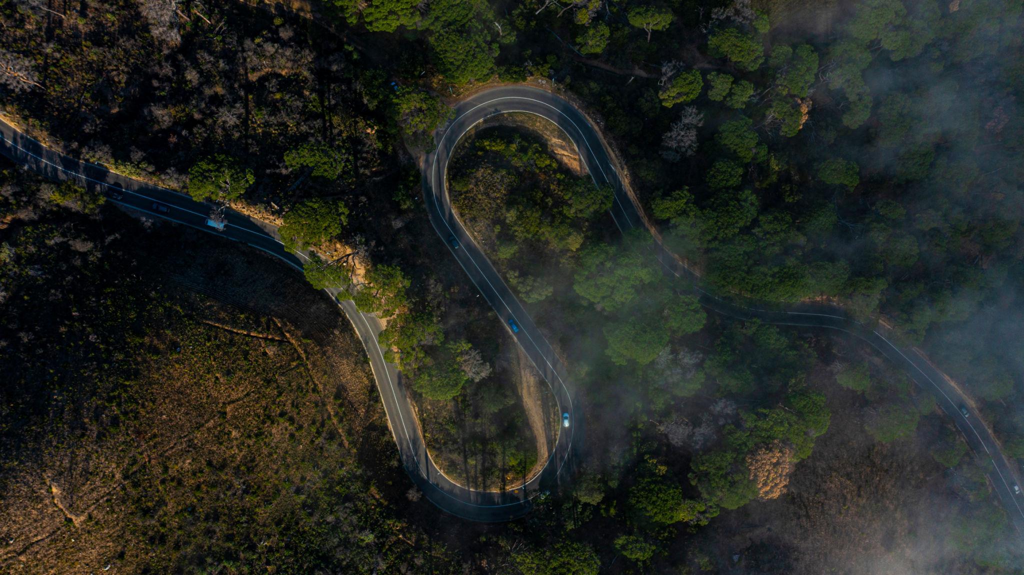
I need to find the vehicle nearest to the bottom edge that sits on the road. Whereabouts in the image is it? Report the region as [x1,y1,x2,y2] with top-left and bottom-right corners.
[1010,479,1022,494]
